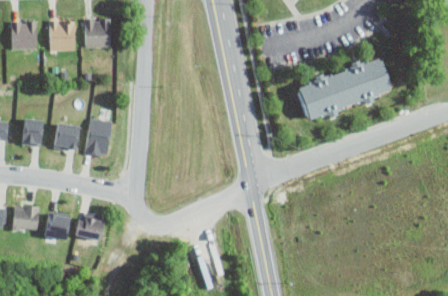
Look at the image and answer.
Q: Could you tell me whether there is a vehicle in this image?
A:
Yes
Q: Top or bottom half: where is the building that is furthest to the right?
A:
top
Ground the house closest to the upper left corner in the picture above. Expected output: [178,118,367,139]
[11,20,38,50]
